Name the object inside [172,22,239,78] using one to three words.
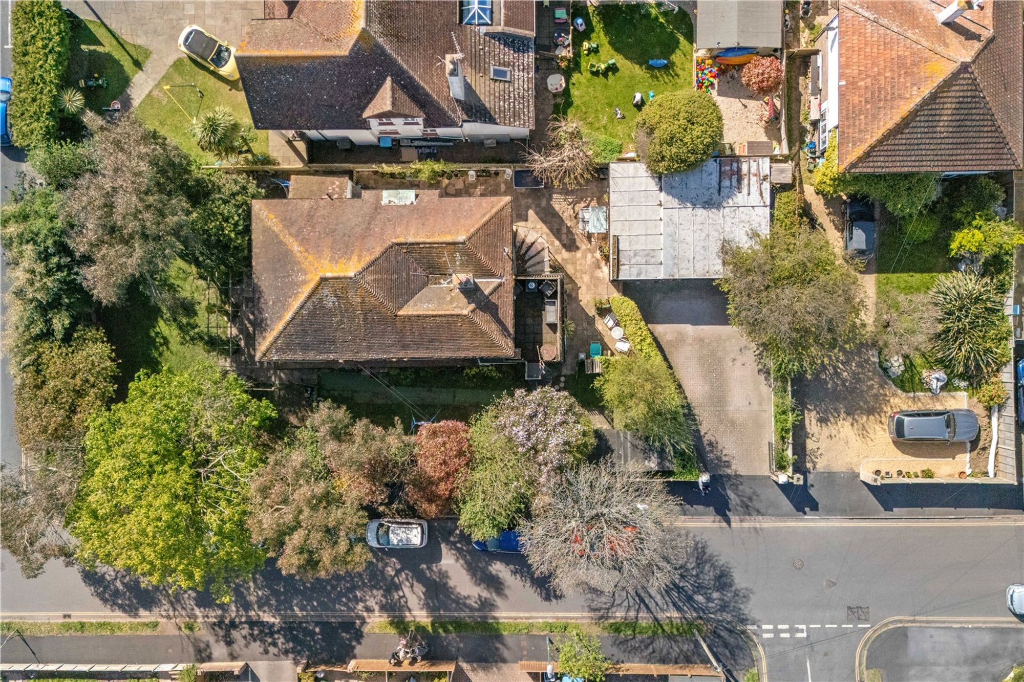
car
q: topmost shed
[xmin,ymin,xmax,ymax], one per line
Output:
[689,0,782,59]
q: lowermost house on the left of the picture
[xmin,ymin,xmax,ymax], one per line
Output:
[250,187,525,362]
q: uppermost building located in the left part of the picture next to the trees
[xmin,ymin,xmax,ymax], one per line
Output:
[230,0,537,154]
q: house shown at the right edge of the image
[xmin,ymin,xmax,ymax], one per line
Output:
[795,0,1024,181]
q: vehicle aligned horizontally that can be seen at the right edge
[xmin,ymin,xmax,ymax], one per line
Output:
[892,406,977,445]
